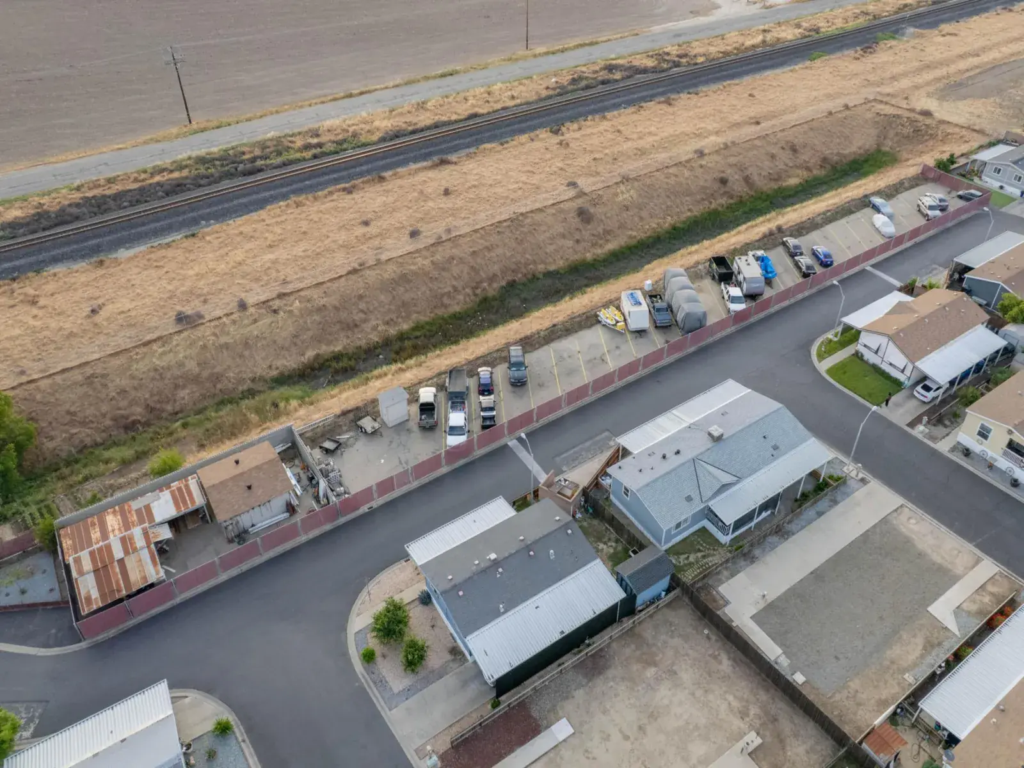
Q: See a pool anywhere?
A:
No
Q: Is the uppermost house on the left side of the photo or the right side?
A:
right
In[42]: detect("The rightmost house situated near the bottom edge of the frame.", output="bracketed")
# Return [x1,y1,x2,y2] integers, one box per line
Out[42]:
[908,601,1024,768]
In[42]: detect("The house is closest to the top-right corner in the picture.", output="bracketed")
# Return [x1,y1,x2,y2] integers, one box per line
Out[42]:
[967,143,1024,192]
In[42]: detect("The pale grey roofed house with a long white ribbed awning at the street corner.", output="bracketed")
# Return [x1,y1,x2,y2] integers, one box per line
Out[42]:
[0,674,193,768]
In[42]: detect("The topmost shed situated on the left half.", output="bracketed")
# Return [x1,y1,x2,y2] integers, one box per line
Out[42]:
[376,388,410,424]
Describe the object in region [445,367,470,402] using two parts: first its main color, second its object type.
gray trailer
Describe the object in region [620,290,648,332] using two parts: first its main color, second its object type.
white trailer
